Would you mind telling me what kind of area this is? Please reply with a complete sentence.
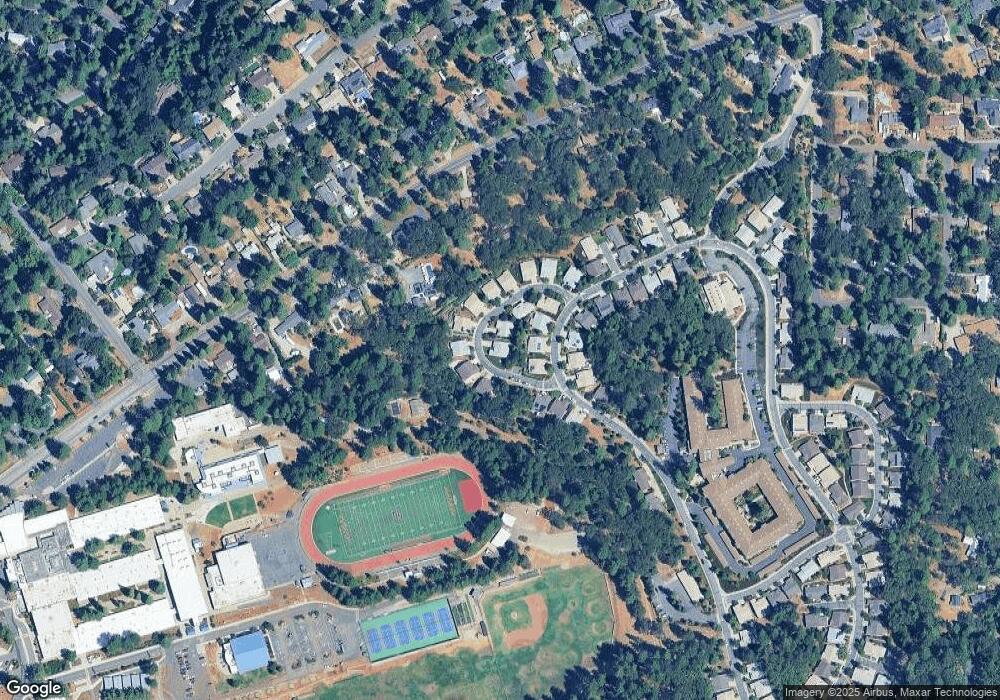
The area seen from above is a residential area.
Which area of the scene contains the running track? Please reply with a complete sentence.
The running track is located in the bottom region of the scene.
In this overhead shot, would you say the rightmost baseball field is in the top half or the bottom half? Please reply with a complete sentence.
You can find the rightmost baseball field in the bottom half.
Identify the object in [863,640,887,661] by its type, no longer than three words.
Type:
house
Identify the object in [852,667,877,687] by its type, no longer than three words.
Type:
house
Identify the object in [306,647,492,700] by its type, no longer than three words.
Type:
sports field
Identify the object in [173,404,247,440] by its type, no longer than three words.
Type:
building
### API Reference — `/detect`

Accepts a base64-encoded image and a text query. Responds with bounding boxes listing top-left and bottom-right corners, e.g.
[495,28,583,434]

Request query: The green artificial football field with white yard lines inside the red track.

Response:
[310,469,478,560]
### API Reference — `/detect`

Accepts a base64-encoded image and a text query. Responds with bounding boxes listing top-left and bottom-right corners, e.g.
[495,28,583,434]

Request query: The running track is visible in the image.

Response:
[299,456,490,573]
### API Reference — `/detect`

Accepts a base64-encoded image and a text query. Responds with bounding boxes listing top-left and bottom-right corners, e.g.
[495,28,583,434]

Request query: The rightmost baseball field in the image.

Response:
[484,569,612,700]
